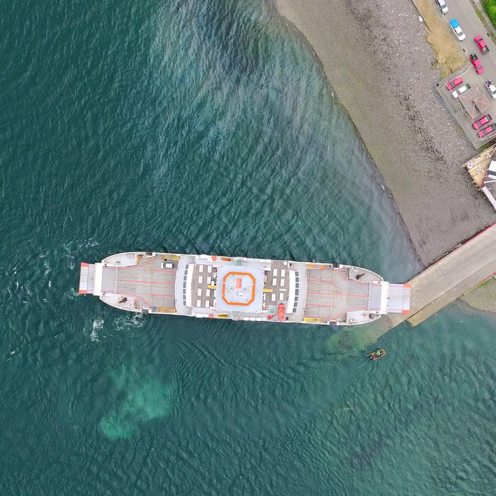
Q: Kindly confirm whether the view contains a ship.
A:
Yes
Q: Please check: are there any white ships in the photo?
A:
Yes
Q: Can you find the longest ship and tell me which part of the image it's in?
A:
center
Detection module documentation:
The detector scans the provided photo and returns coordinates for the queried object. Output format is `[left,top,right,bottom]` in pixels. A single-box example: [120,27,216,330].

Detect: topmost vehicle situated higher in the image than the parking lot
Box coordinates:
[435,0,448,13]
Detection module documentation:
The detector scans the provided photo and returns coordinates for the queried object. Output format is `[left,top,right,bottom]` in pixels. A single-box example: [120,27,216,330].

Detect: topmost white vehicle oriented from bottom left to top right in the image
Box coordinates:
[451,82,471,98]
